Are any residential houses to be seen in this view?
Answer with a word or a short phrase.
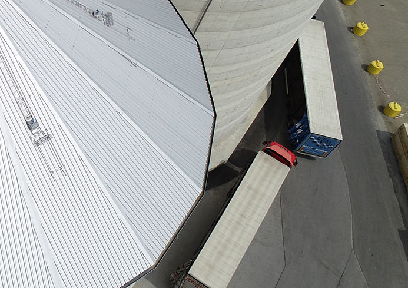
No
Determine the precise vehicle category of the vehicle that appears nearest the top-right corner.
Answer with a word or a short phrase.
truck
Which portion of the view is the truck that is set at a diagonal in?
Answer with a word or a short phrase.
bottom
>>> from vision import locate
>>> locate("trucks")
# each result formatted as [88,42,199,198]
[282,11,343,162]
[165,135,300,288]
